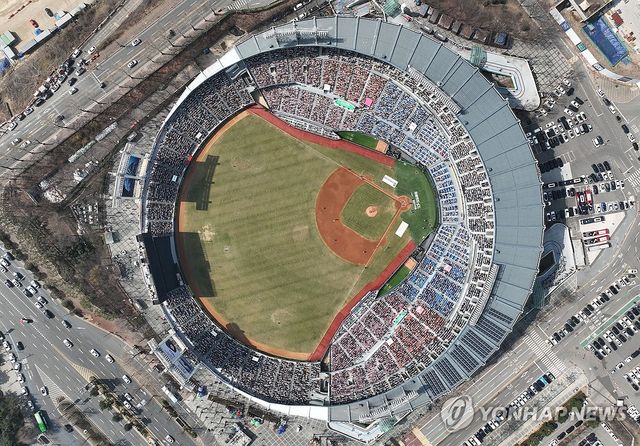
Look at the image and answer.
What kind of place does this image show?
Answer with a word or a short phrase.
sports ground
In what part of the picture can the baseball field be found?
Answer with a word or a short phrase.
center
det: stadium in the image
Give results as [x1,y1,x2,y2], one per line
[141,12,549,424]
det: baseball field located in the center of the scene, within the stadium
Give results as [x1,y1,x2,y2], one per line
[176,104,438,362]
